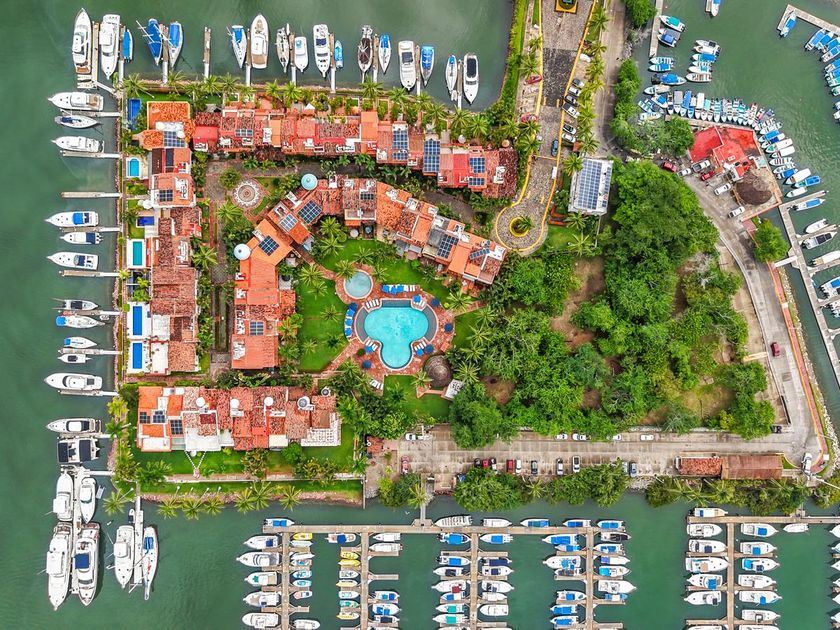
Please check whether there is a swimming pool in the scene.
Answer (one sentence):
Yes, the image includes a swimming pool.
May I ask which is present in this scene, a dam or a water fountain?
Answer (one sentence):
Visible in the photo is a water fountain.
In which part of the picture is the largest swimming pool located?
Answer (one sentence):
Look in the center portion of the view to spot the largest swimming pool.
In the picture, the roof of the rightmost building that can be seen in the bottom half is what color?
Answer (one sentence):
The color of the roof on the rightmost building that can be seen in the bottom half is red.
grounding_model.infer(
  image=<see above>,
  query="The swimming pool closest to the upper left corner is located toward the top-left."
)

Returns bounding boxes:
[127,98,141,130]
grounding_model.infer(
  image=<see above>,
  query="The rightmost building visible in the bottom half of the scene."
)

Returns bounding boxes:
[715,452,783,478]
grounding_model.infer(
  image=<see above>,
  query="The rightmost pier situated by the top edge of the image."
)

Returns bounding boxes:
[776,4,840,37]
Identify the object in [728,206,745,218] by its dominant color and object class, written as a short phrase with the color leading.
white vehicle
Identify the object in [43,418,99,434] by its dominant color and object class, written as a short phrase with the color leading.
white boat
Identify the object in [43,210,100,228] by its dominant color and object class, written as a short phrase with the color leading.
white boat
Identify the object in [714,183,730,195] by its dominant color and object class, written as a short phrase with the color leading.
white vehicle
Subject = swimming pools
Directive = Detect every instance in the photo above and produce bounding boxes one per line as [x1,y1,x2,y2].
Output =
[128,158,139,177]
[127,98,141,130]
[131,241,143,265]
[132,306,142,336]
[137,216,154,227]
[354,299,439,372]
[132,343,142,368]
[344,270,373,299]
